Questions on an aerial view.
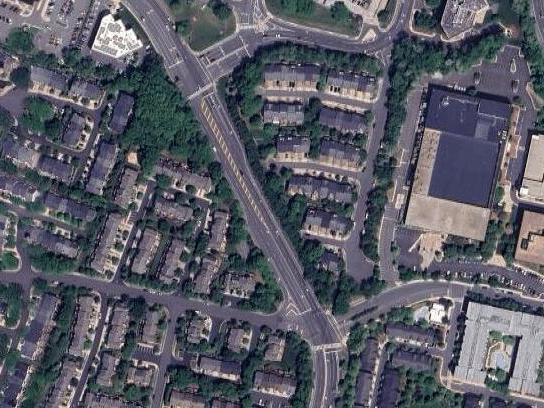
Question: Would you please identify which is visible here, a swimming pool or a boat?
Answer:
swimming pool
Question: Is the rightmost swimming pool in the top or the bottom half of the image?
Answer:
bottom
